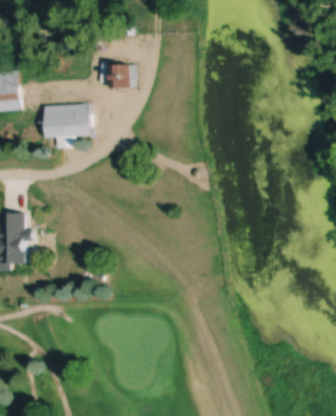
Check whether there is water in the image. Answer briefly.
Yes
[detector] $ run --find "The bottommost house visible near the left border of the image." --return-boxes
[0,212,34,271]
